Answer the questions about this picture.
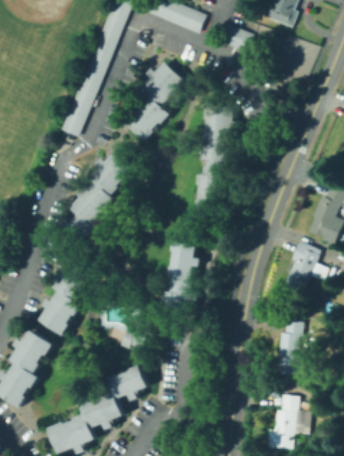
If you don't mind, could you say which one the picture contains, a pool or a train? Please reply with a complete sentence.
This aerial view contains a pool.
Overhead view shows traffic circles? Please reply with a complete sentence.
No, no traffic circle is visible in the view.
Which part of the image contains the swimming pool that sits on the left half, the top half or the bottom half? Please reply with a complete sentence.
It is in the bottom half that the swimming pool that sits on the left half appears.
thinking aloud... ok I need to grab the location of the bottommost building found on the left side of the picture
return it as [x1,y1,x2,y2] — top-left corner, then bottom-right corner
[46,419,93,456]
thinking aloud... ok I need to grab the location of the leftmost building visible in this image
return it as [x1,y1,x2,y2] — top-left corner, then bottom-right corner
[0,332,50,408]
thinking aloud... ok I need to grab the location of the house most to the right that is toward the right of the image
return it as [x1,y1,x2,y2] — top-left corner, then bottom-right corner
[310,190,344,244]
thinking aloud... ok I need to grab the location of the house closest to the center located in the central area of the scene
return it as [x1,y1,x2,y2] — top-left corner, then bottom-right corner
[166,245,199,298]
